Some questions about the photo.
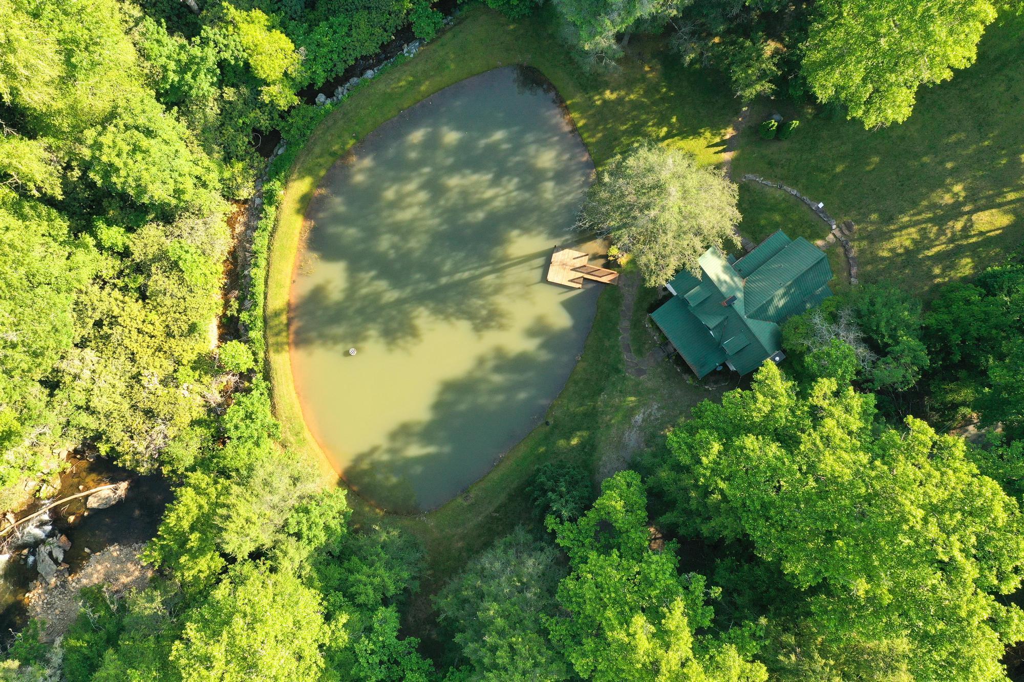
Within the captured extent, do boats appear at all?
No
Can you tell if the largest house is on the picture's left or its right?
right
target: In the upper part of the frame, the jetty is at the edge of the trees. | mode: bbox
[546,244,622,289]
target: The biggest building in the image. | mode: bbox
[648,227,834,403]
